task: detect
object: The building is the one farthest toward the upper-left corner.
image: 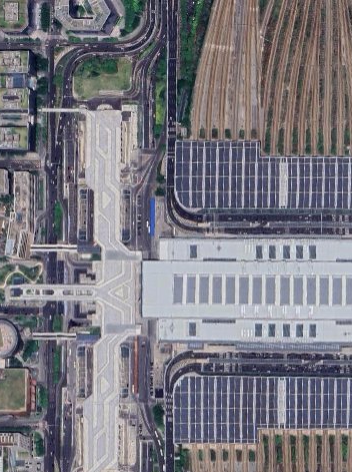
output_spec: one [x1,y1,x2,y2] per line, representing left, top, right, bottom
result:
[0,0,33,36]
